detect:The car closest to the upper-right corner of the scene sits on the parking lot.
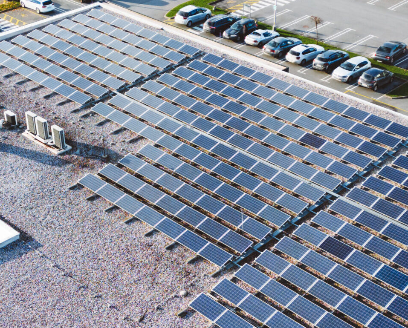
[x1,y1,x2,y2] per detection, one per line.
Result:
[376,39,408,62]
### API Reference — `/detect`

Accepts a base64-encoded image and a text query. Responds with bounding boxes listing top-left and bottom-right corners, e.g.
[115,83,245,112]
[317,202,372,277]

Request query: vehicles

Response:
[361,65,399,88]
[290,42,327,63]
[376,39,408,62]
[334,54,374,80]
[314,46,355,70]
[247,27,283,46]
[265,34,306,55]
[226,16,262,39]
[205,13,244,33]
[180,4,214,24]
